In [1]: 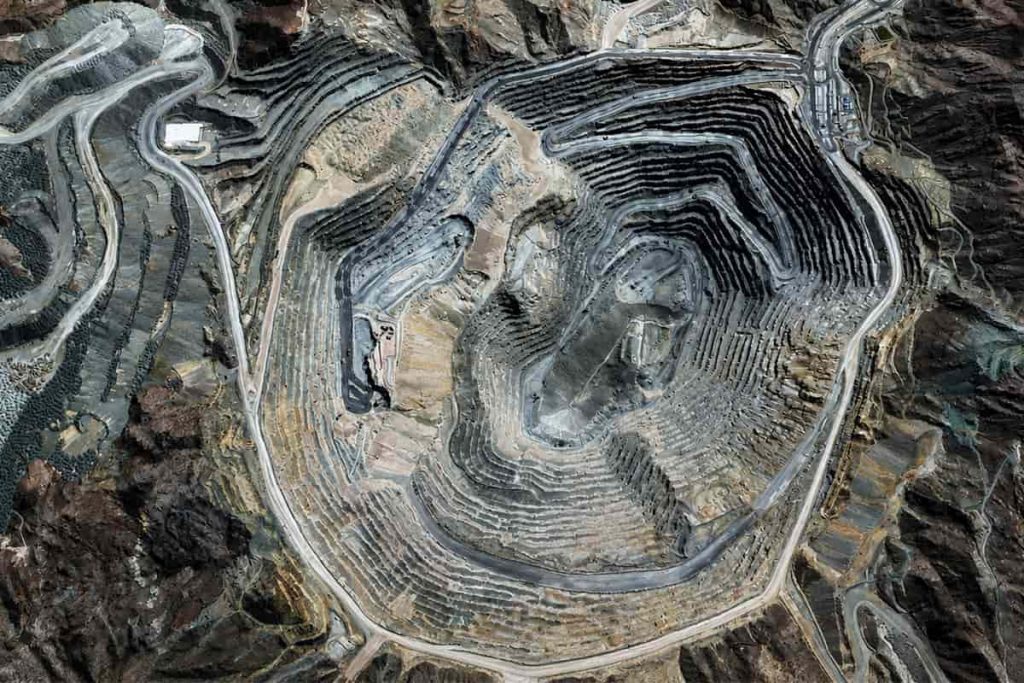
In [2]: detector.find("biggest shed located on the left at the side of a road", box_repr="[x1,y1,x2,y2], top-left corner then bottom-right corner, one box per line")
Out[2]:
[165,123,200,150]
